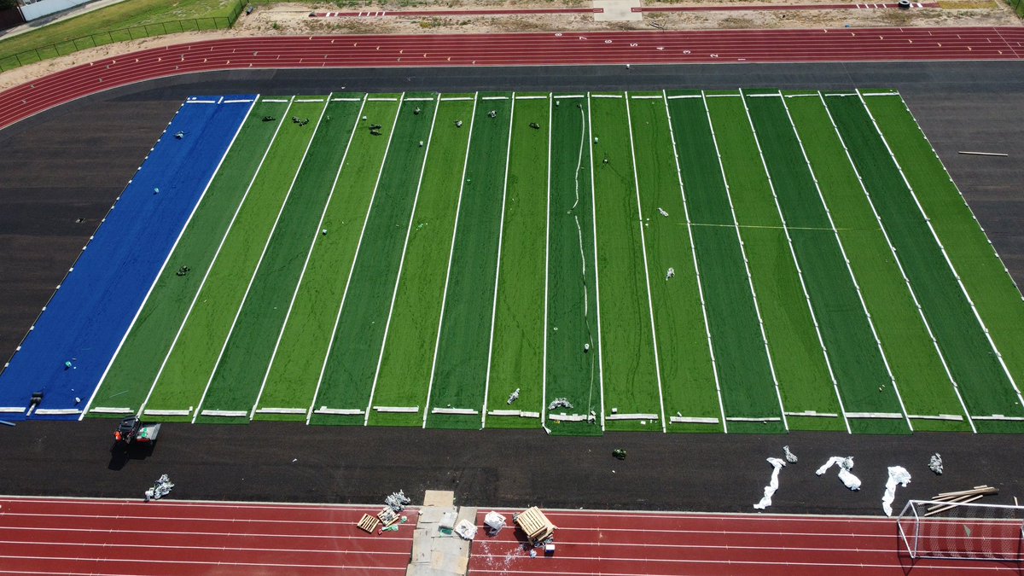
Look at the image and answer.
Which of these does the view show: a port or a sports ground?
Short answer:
sports ground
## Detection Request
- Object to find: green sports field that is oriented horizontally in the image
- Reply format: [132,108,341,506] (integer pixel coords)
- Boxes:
[0,87,1024,436]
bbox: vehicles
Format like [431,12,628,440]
[113,415,165,446]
